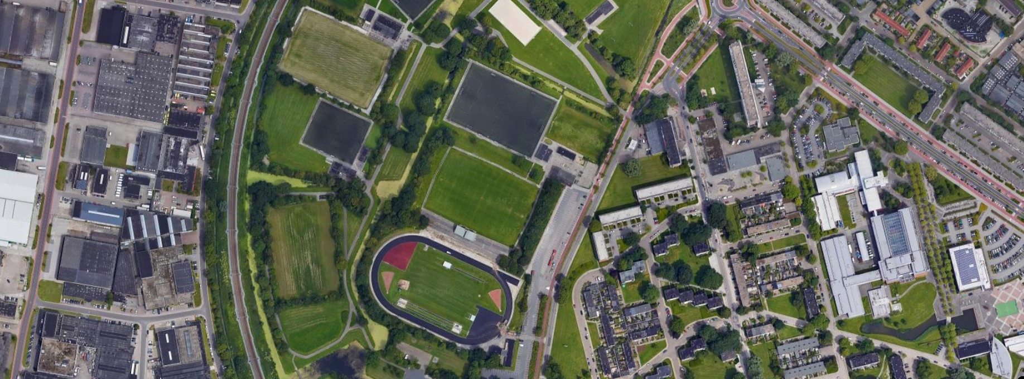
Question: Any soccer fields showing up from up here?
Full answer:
Yes, this view includes a soccer field.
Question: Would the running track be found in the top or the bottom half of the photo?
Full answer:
The bottom half of the photo is where the running track is.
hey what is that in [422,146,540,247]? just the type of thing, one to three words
soccer field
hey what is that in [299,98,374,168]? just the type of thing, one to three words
sports field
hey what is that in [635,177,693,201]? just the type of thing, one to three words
building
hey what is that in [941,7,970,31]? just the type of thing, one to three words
building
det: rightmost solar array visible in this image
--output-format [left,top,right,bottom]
[954,249,980,285]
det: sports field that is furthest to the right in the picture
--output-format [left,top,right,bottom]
[600,8,661,55]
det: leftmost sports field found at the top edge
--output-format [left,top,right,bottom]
[280,7,395,113]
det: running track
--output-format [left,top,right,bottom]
[369,233,520,344]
